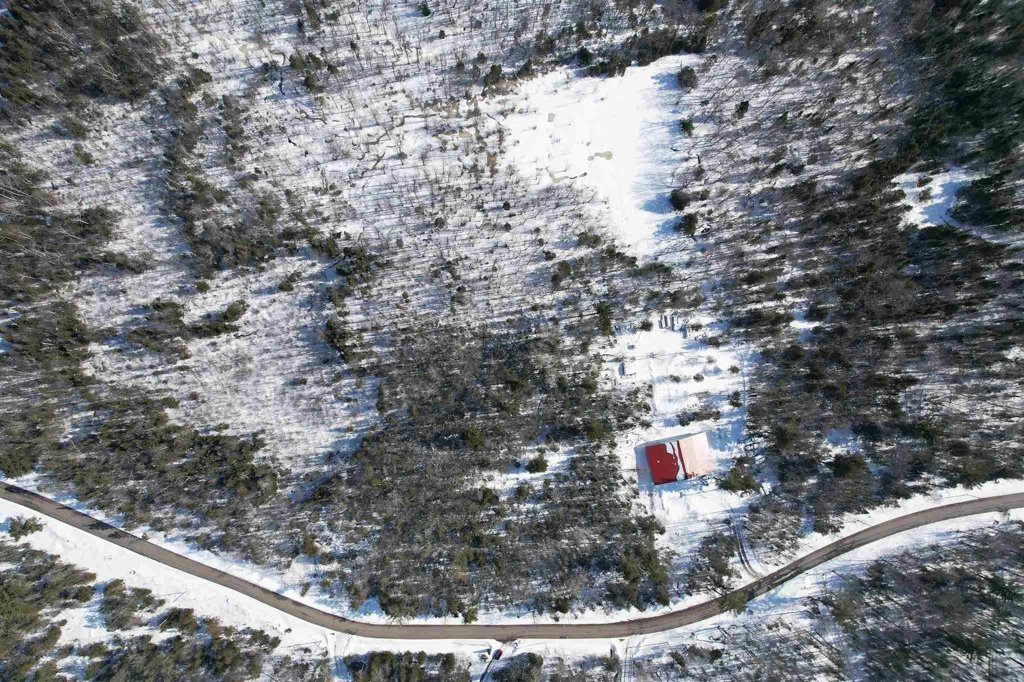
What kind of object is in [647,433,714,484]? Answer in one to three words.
house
